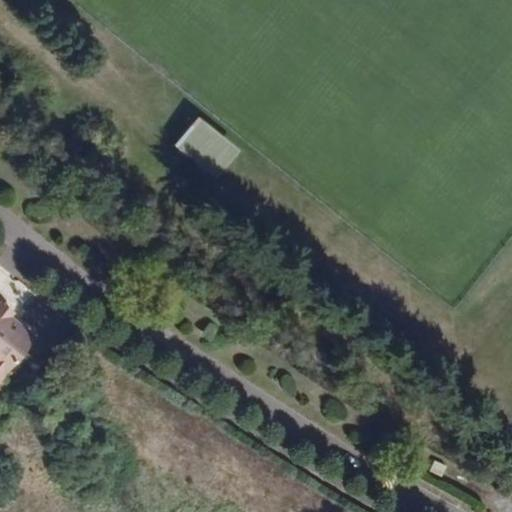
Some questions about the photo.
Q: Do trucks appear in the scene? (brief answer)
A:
No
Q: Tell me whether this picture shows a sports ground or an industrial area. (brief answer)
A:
sports ground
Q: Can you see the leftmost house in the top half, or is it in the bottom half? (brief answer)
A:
bottom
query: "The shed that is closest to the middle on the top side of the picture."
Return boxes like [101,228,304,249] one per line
[174,117,240,181]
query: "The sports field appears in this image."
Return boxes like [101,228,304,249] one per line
[76,0,512,308]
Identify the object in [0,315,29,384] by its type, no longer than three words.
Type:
house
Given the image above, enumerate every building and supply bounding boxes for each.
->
[174,117,240,181]
[0,315,29,384]
[429,459,446,476]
